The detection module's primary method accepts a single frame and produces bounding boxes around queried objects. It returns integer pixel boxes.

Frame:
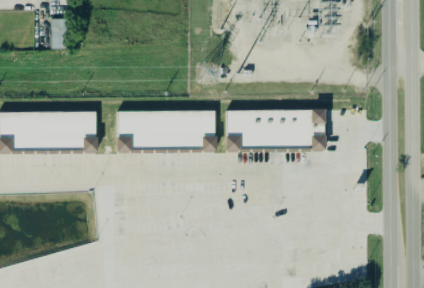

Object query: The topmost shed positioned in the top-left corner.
[51,19,66,49]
